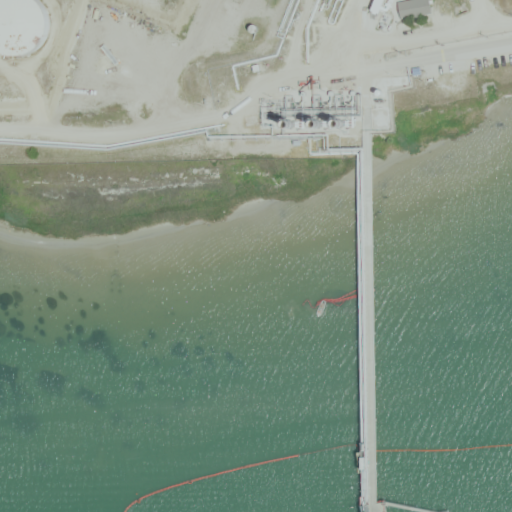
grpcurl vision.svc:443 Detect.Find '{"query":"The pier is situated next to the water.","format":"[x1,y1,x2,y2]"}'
[356,133,377,512]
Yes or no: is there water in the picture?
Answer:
Yes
